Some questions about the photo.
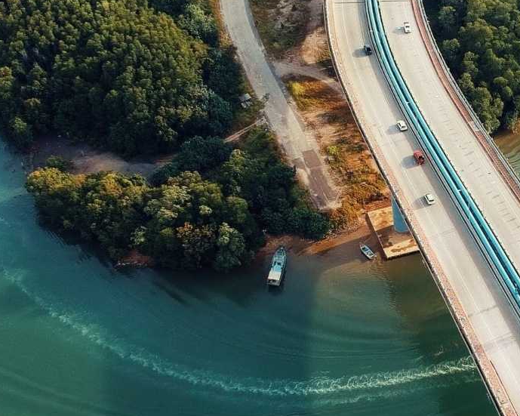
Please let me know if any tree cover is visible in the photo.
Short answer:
Yes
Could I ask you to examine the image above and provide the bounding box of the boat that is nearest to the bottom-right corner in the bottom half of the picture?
[361,244,377,261]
